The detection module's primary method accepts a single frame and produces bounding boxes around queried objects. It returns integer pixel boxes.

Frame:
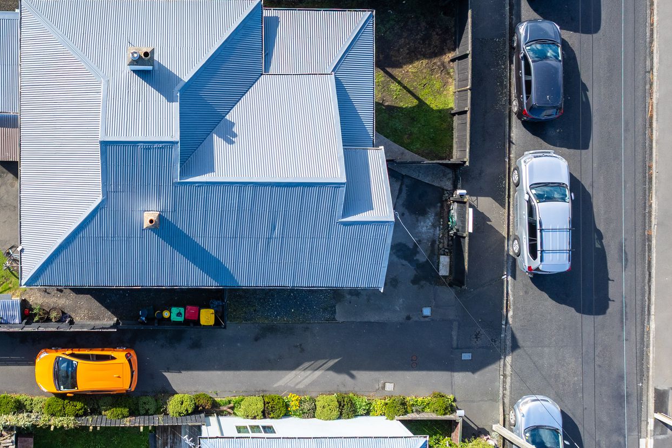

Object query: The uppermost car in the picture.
[506,20,567,122]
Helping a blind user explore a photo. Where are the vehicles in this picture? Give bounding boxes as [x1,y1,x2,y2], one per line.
[506,20,567,122]
[504,392,565,448]
[36,344,138,400]
[508,152,580,272]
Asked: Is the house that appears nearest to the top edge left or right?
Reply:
left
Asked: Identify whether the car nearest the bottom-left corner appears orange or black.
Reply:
orange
